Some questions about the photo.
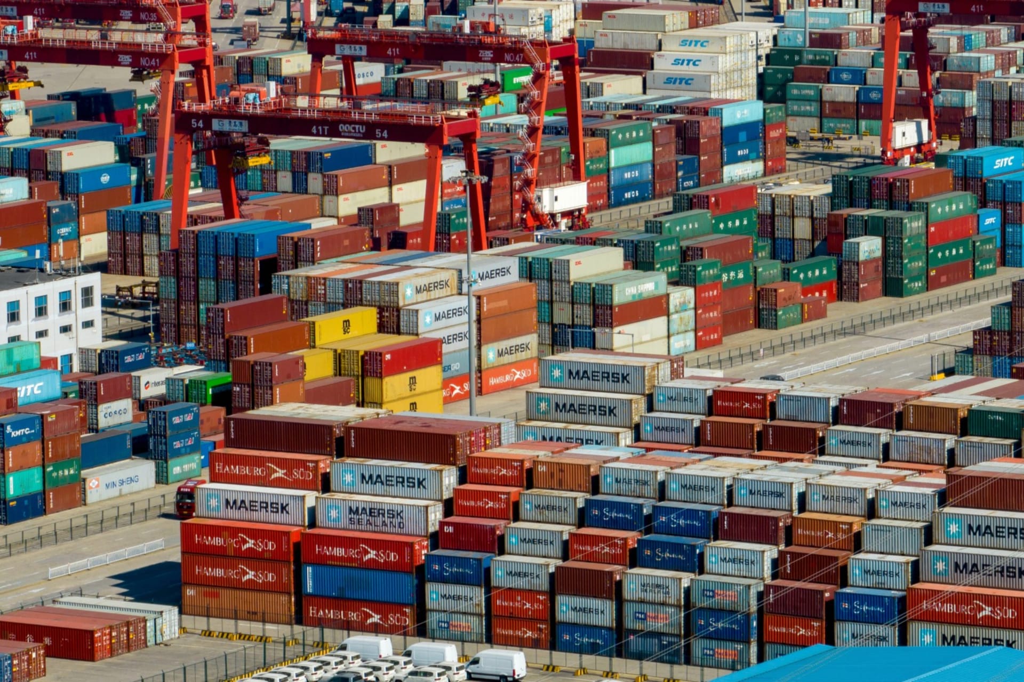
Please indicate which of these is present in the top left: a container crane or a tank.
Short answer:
container crane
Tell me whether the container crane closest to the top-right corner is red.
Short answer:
Yes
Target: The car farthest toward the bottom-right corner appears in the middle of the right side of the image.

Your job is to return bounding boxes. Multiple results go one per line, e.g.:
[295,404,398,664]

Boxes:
[756,367,789,382]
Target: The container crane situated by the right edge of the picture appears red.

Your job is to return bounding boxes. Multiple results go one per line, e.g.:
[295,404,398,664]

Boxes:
[873,0,1024,164]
